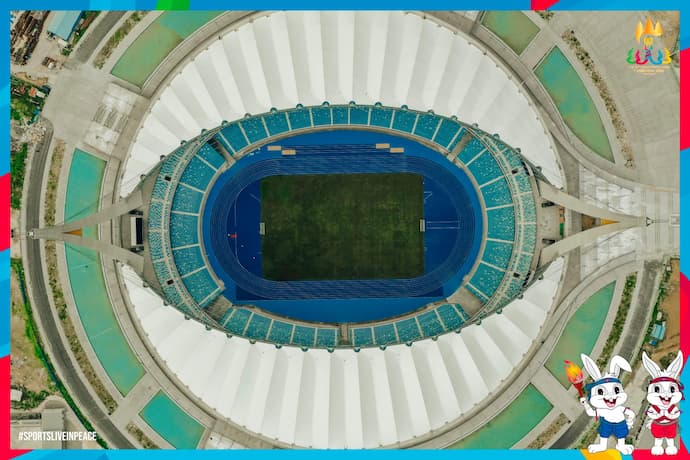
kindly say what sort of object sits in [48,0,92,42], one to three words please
building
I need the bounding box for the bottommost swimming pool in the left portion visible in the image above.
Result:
[136,389,205,460]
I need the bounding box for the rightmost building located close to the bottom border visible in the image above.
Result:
[41,406,69,460]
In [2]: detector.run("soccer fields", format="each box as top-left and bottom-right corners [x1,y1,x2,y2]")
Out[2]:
[261,174,424,280]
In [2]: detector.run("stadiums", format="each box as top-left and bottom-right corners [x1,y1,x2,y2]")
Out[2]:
[113,0,569,455]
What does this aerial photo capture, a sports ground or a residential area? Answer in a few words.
sports ground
